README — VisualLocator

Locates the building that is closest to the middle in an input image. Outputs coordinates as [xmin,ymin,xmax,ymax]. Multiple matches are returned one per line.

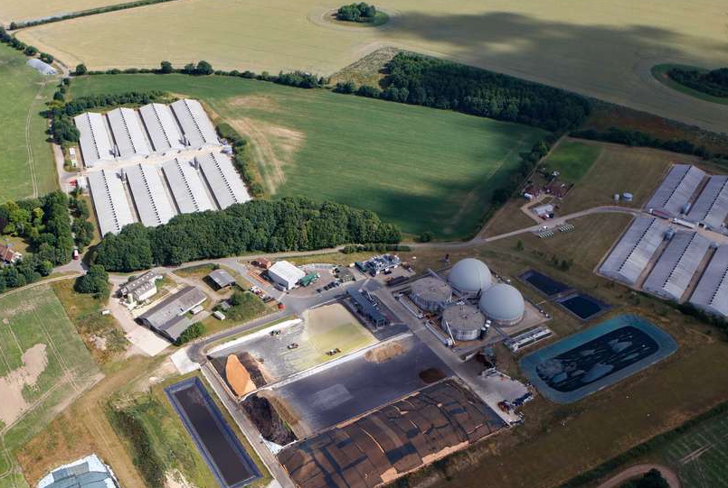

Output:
[352,247,402,280]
